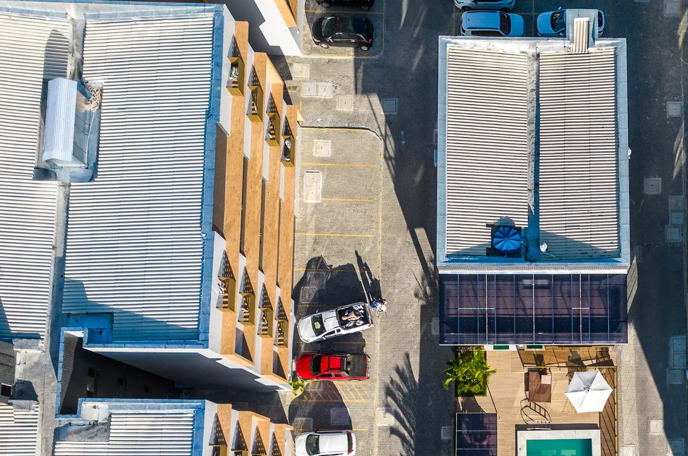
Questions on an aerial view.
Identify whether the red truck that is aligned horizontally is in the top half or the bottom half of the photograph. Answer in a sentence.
The bottom half of the photo is where the red truck that is aligned horizontally is.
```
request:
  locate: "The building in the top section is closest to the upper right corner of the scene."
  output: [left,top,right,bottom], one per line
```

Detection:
[436,14,629,275]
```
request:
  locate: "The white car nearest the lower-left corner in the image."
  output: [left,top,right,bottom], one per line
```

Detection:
[296,429,357,456]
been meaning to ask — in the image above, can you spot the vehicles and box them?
[541,8,603,39]
[298,304,375,343]
[296,349,372,383]
[455,0,516,13]
[462,8,524,39]
[313,16,374,50]
[316,0,377,10]
[296,429,357,456]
